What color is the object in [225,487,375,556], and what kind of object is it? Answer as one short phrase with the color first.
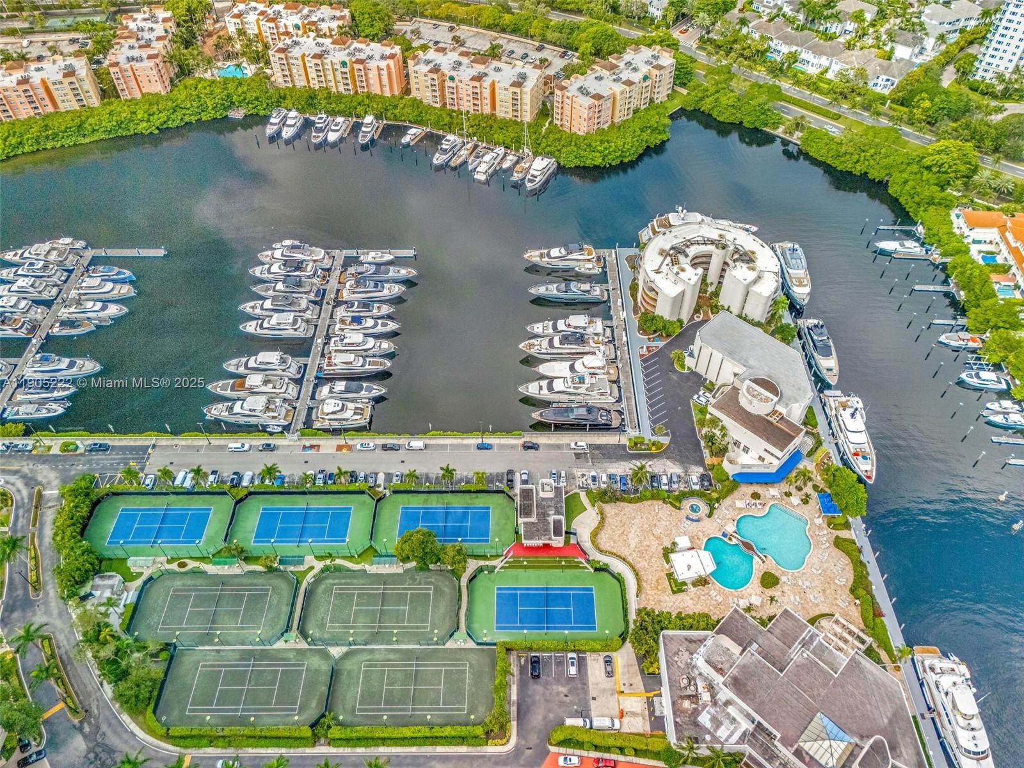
green tennis court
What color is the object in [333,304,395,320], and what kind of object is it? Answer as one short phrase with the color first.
white boat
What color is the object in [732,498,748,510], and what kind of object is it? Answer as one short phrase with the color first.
white umbrella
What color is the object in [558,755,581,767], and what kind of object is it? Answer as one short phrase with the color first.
white vehicle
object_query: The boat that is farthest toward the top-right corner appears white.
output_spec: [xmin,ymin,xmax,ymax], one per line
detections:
[876,240,929,254]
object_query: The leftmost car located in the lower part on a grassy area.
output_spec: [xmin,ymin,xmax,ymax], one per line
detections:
[14,732,31,758]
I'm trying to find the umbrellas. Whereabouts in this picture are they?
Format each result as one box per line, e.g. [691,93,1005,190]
[748,592,763,609]
[722,520,738,536]
[786,494,804,509]
[732,498,748,510]
[735,595,753,610]
[764,487,780,499]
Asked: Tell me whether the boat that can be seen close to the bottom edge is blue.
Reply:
No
